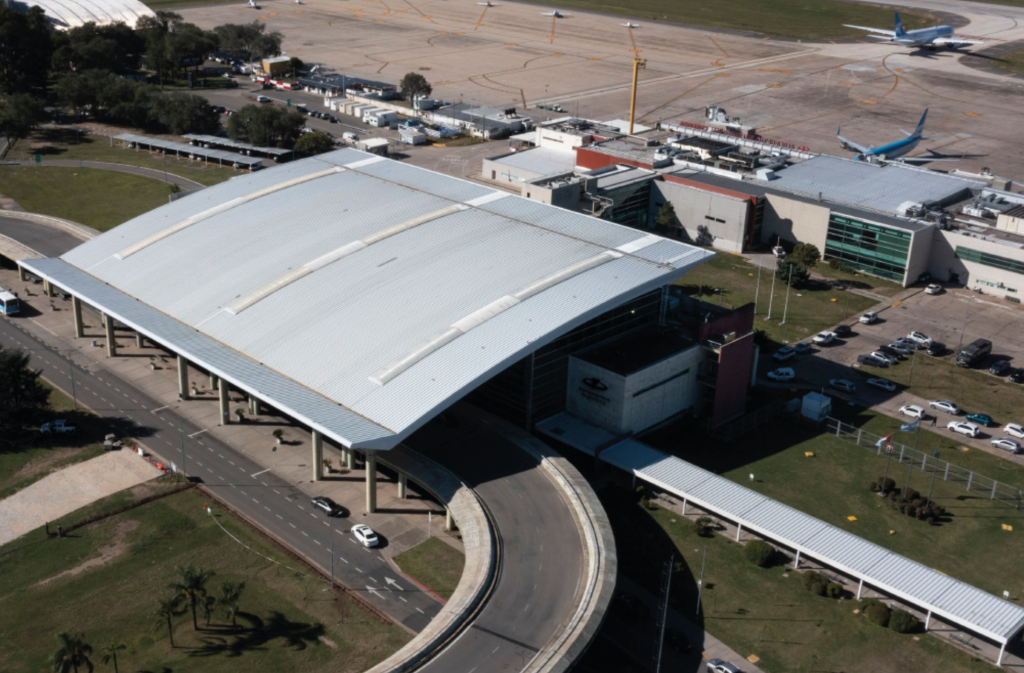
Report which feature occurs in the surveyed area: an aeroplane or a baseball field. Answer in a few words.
aeroplane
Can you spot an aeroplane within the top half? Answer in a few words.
Yes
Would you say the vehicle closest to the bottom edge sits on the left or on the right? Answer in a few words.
right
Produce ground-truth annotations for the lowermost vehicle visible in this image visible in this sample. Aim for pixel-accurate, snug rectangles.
[697,647,753,673]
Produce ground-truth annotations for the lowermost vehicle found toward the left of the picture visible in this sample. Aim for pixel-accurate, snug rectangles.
[350,521,383,545]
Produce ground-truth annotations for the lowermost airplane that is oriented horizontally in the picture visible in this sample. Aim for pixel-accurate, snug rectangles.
[836,106,964,164]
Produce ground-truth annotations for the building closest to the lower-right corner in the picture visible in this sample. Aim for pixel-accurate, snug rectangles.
[805,387,834,422]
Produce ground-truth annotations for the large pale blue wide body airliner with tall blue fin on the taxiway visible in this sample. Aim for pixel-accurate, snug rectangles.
[851,14,988,52]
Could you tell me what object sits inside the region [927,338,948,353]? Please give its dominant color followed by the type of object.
black car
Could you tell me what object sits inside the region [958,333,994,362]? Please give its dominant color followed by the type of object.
black vehicle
